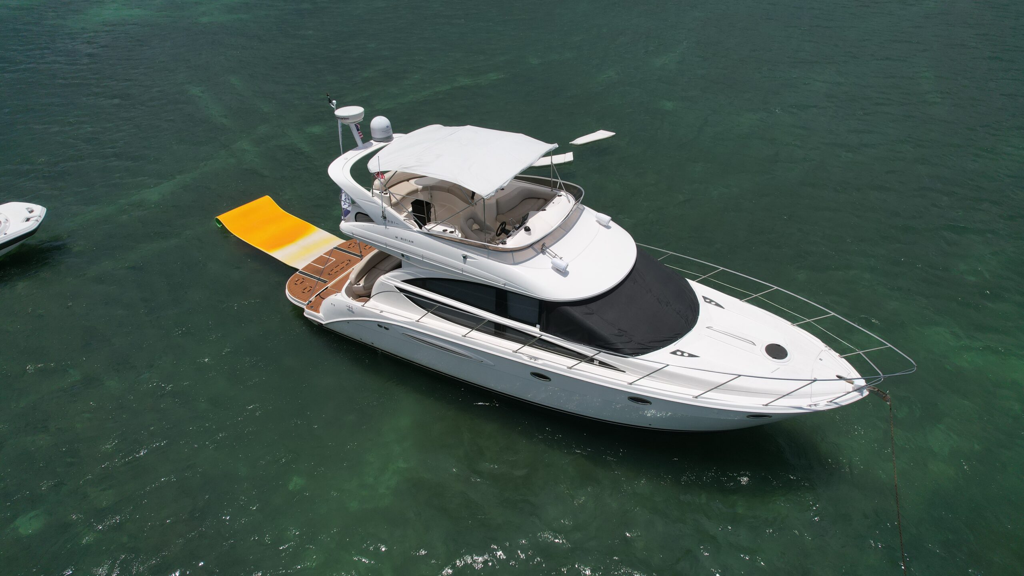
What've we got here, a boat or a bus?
boat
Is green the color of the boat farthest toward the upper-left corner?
No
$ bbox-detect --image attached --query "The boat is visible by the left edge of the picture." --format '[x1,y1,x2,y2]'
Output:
[0,203,48,260]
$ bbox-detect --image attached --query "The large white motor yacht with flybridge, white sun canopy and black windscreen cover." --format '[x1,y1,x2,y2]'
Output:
[286,87,920,437]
